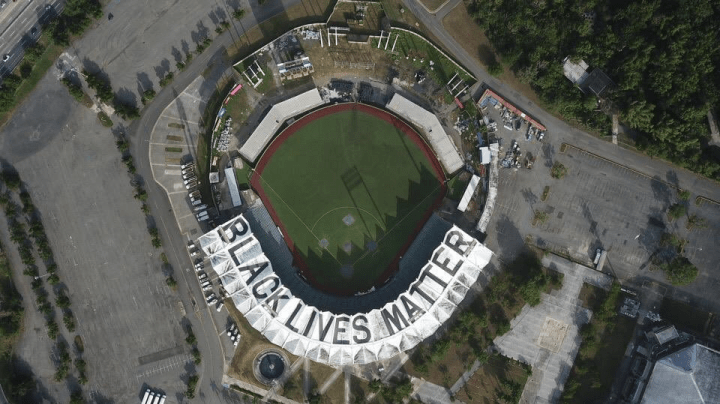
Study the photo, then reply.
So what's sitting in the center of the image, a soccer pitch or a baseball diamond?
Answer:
baseball diamond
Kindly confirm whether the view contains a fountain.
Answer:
Yes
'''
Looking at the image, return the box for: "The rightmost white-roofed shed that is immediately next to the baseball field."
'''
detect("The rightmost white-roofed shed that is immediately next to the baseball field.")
[457,174,480,212]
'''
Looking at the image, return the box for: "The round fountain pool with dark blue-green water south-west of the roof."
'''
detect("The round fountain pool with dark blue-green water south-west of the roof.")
[252,348,290,385]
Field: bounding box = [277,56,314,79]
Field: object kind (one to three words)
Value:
building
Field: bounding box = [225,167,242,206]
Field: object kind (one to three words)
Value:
shed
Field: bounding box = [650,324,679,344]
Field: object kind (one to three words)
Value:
building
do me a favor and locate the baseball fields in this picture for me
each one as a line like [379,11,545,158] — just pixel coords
[250,103,447,296]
